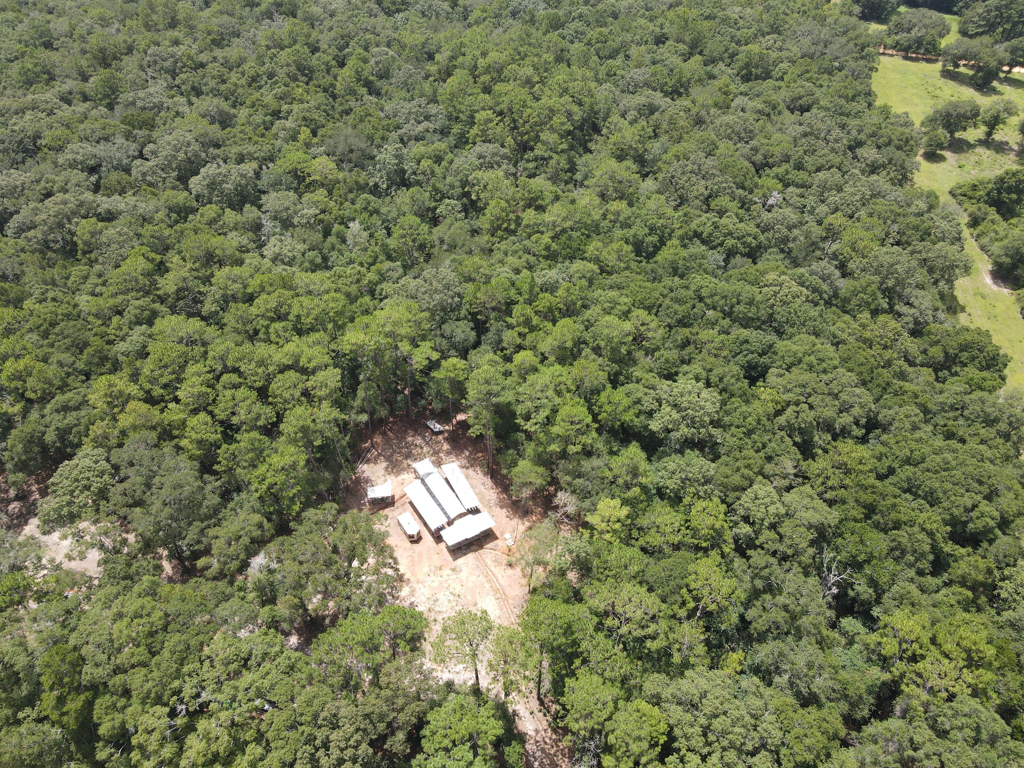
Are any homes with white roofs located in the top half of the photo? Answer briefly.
No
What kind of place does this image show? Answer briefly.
forest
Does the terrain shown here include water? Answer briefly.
No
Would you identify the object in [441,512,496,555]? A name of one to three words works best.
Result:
house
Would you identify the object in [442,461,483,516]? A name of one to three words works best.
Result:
house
